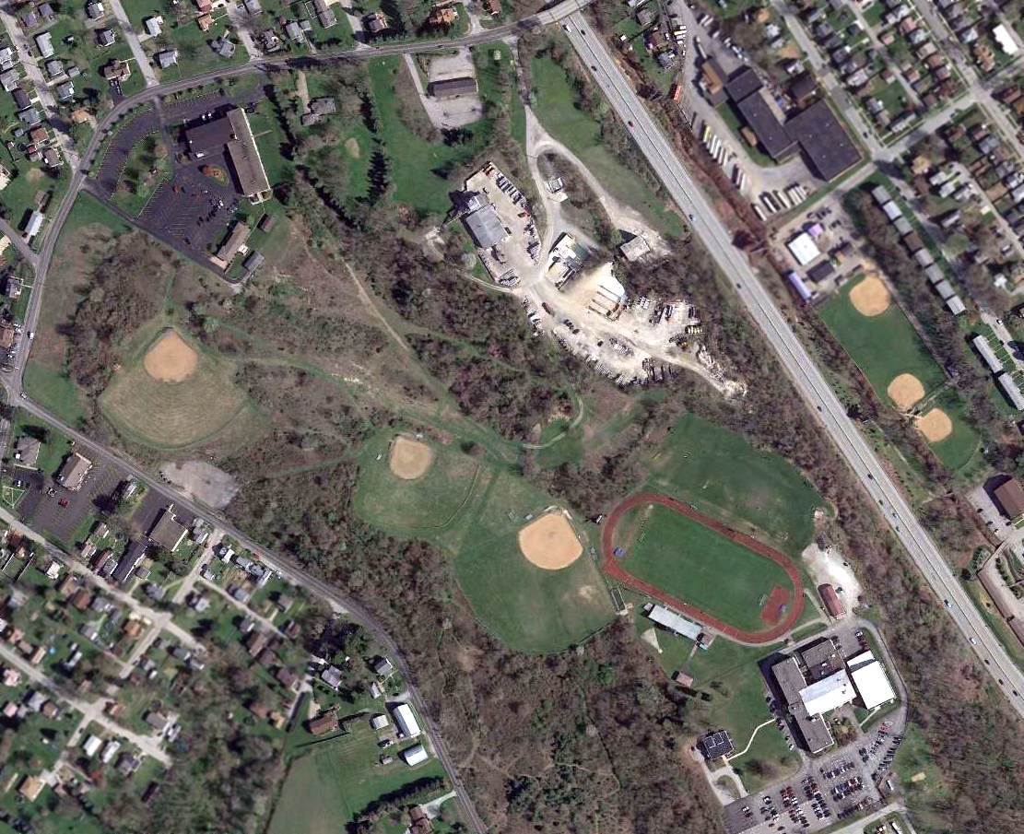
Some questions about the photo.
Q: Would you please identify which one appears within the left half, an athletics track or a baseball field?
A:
baseball field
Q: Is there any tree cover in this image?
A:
Yes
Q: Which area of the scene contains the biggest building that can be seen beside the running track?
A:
bottom right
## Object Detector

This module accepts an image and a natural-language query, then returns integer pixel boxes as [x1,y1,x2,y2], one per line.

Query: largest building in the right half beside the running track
[772,641,858,754]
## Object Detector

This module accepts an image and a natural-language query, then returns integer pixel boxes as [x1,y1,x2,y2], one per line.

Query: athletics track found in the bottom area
[601,493,805,644]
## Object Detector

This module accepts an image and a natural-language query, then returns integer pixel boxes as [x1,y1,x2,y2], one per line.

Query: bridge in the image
[531,0,589,31]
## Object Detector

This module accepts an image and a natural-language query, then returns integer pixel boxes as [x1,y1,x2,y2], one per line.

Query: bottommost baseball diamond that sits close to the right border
[912,404,981,469]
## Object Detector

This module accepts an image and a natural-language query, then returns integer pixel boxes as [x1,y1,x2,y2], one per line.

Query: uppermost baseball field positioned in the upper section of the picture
[818,268,922,369]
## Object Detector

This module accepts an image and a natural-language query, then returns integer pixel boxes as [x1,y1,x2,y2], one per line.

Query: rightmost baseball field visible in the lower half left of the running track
[452,469,617,651]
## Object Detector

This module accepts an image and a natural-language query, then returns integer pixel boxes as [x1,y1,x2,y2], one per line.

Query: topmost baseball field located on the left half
[103,318,250,452]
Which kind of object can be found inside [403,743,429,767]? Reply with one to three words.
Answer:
barn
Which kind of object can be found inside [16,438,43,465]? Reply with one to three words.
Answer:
house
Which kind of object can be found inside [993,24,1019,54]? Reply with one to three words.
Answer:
building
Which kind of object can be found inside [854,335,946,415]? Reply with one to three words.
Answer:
baseball field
